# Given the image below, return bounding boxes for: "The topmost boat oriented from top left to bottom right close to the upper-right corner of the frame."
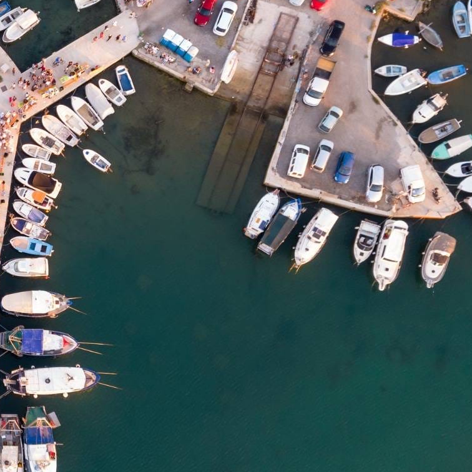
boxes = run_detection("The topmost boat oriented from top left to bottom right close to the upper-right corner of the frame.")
[418,21,443,52]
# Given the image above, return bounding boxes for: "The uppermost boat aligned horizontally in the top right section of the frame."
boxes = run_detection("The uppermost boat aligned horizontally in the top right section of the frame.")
[378,32,420,50]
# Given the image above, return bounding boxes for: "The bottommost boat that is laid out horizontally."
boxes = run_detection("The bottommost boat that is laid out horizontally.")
[0,363,118,398]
